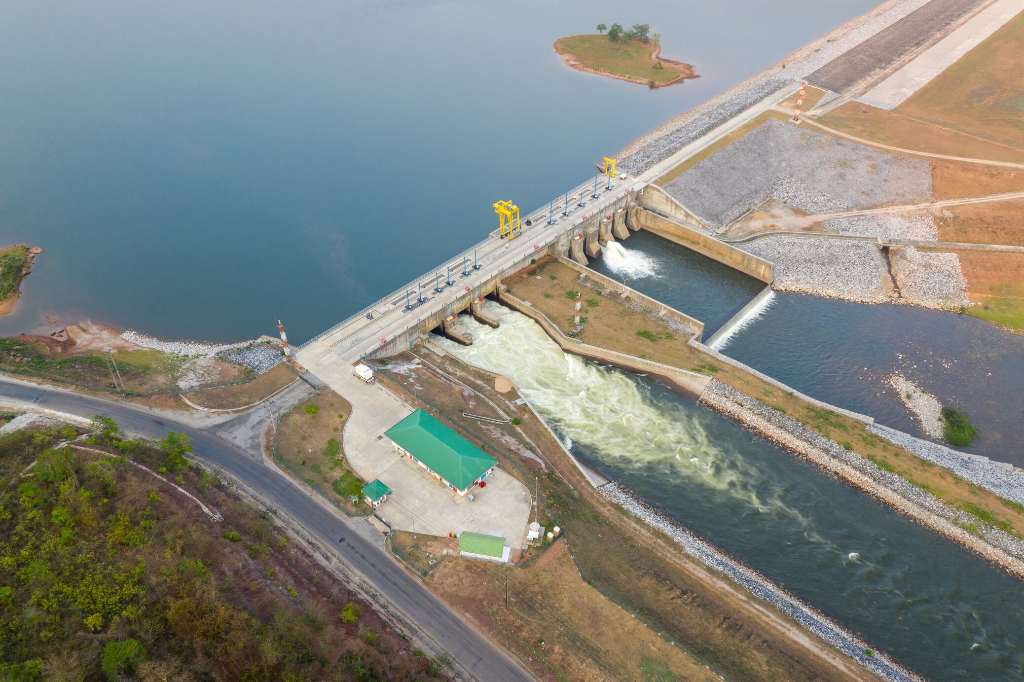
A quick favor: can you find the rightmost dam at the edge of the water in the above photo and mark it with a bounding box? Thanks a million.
[704,284,781,351]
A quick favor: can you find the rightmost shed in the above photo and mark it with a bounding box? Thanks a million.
[457,531,514,570]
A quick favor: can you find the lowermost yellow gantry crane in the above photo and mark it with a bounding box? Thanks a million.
[494,197,523,240]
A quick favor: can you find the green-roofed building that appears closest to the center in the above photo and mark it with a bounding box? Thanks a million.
[383,409,498,500]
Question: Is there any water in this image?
Yes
